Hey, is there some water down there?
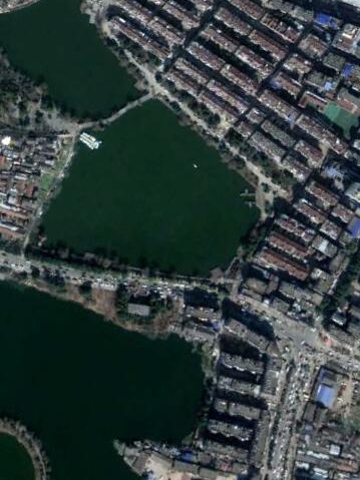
Yes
